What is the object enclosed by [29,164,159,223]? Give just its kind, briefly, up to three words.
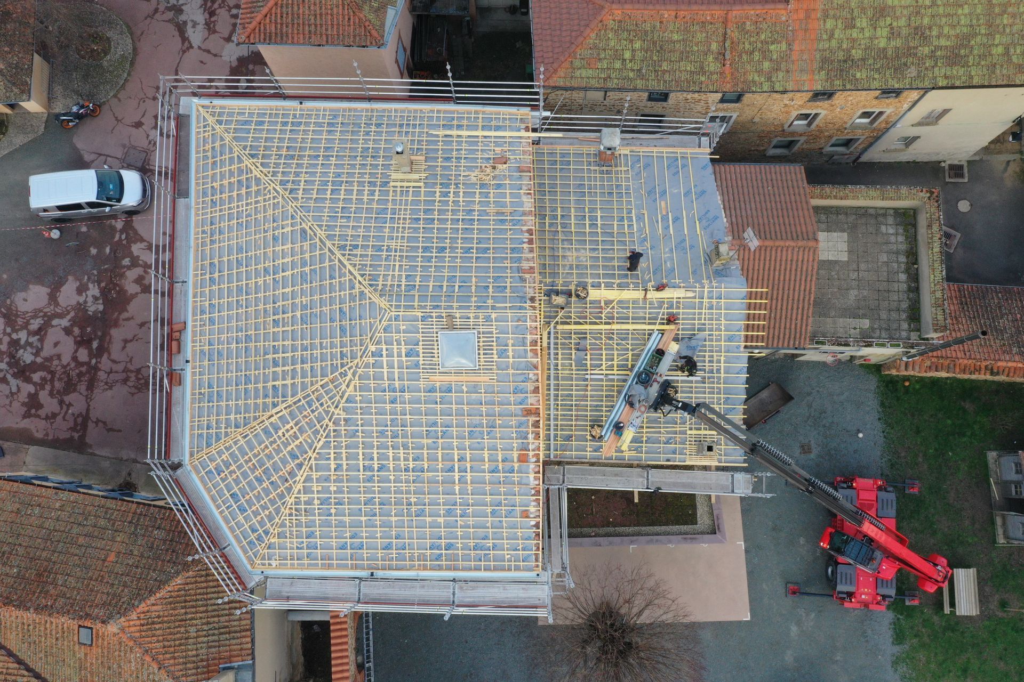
van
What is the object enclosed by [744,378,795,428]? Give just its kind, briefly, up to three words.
trailer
